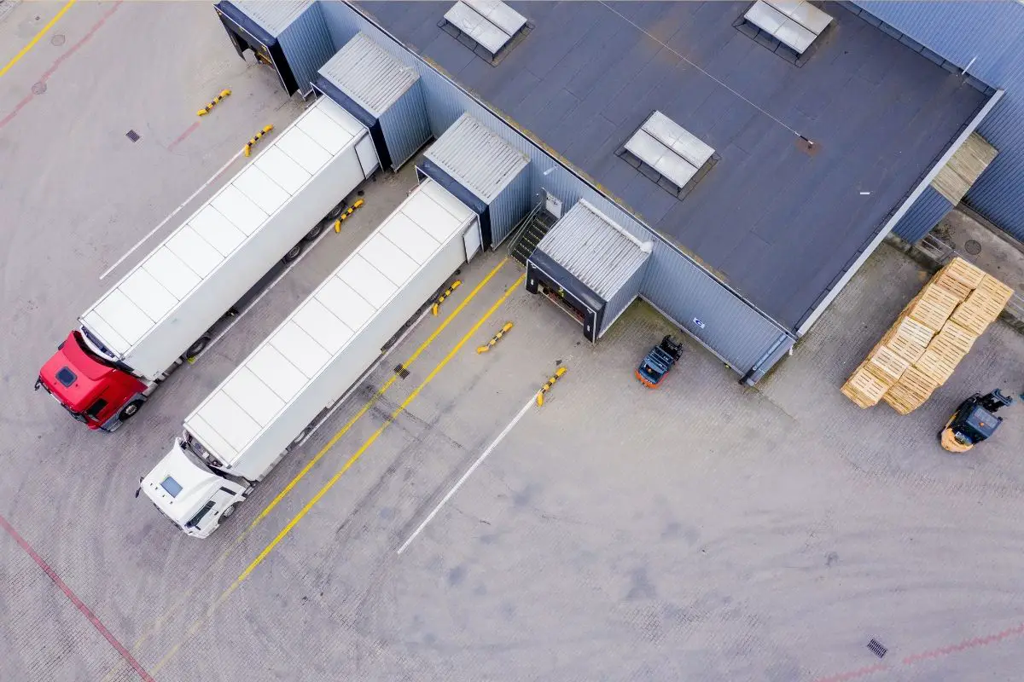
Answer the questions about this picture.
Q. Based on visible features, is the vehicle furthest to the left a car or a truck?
truck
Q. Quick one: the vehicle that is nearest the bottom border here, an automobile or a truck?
truck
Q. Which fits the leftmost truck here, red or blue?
red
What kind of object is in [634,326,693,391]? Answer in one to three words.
work vehicle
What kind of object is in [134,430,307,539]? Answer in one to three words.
truck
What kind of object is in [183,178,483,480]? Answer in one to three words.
trailer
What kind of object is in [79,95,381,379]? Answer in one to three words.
trailer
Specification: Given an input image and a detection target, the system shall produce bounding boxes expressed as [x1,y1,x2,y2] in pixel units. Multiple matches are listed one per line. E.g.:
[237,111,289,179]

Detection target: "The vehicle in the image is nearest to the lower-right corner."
[935,383,1018,457]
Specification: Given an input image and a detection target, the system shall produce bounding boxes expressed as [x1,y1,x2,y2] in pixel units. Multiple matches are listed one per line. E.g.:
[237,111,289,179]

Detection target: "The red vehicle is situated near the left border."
[32,328,206,434]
